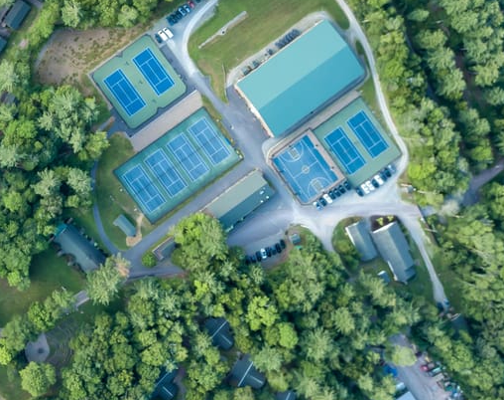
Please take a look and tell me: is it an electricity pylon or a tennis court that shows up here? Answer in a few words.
tennis court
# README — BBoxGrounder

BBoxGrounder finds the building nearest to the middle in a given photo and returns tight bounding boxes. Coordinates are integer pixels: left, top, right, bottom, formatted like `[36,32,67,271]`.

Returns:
[205,169,275,231]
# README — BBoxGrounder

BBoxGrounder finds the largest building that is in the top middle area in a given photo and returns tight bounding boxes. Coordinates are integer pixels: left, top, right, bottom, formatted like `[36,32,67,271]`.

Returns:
[233,20,364,136]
